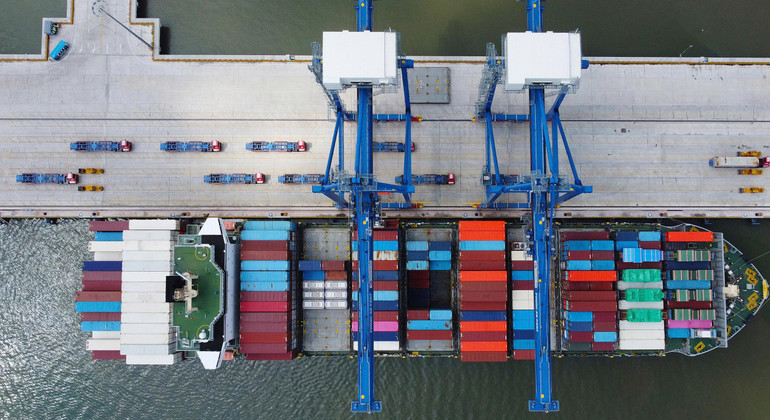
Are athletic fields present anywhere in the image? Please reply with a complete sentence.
No, this view has no athletic field in it.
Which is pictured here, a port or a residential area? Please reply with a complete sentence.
This image shows a port.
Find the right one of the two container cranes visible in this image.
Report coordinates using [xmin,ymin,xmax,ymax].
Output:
[474,0,593,414]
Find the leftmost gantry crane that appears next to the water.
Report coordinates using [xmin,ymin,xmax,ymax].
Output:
[303,0,420,415]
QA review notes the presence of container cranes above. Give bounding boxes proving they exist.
[303,0,420,415]
[474,0,593,414]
